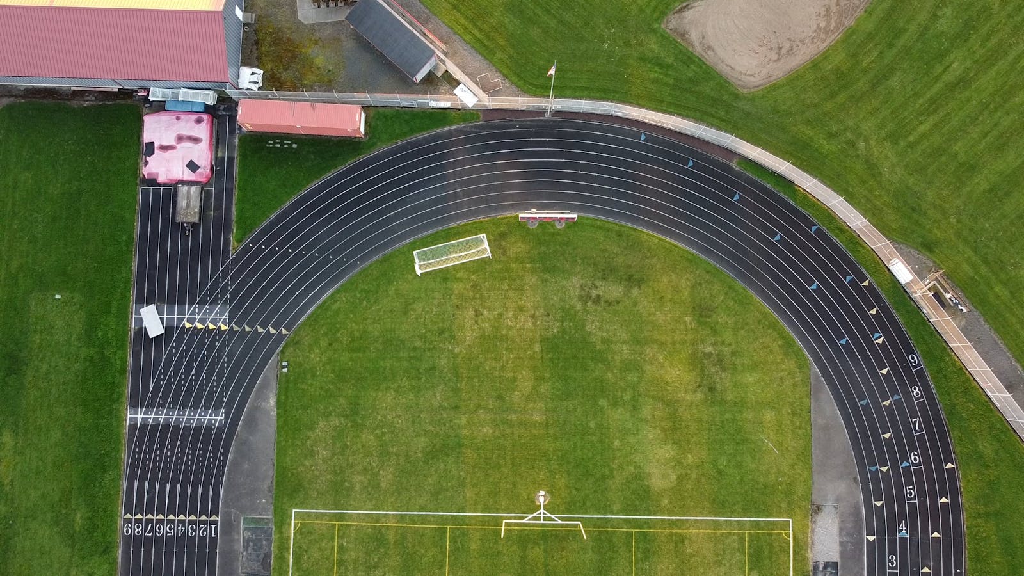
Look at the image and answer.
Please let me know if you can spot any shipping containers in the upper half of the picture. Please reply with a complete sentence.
Yes, a shipping container shows up in the upper half of the picture.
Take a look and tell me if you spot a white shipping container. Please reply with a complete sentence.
No, the photo shows no white shipping container.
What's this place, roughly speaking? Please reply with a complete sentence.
This looks like a sports ground.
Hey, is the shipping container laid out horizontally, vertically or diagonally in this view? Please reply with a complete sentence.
I'd say the shipping container is aligned horizontally in the picture.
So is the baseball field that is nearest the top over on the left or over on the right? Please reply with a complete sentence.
The baseball field that is nearest the top sits on the right side.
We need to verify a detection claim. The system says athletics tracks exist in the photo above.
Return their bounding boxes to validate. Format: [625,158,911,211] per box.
[115,101,968,576]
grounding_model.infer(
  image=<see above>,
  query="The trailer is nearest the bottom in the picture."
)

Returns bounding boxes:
[175,185,204,234]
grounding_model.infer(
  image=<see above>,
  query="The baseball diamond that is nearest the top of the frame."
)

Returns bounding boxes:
[428,0,1024,366]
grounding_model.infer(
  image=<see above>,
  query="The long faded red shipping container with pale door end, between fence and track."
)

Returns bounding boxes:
[237,99,366,137]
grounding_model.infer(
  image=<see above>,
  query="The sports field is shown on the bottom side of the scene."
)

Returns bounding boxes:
[271,216,812,576]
